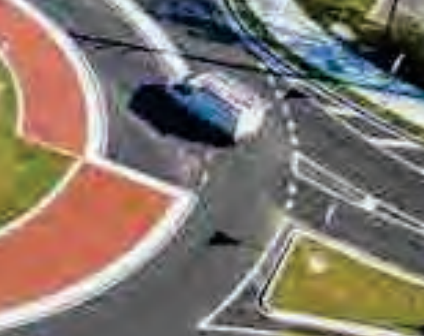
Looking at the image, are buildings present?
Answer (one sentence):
No, the frame has no building in it.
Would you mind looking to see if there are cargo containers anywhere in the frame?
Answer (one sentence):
No, I find no cargo container anywhere in the image.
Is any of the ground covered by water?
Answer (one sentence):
No, there's no water in this view.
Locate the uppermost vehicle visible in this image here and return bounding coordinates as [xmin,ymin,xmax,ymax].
[155,0,244,39]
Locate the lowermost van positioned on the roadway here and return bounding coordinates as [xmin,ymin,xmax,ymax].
[161,63,269,131]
